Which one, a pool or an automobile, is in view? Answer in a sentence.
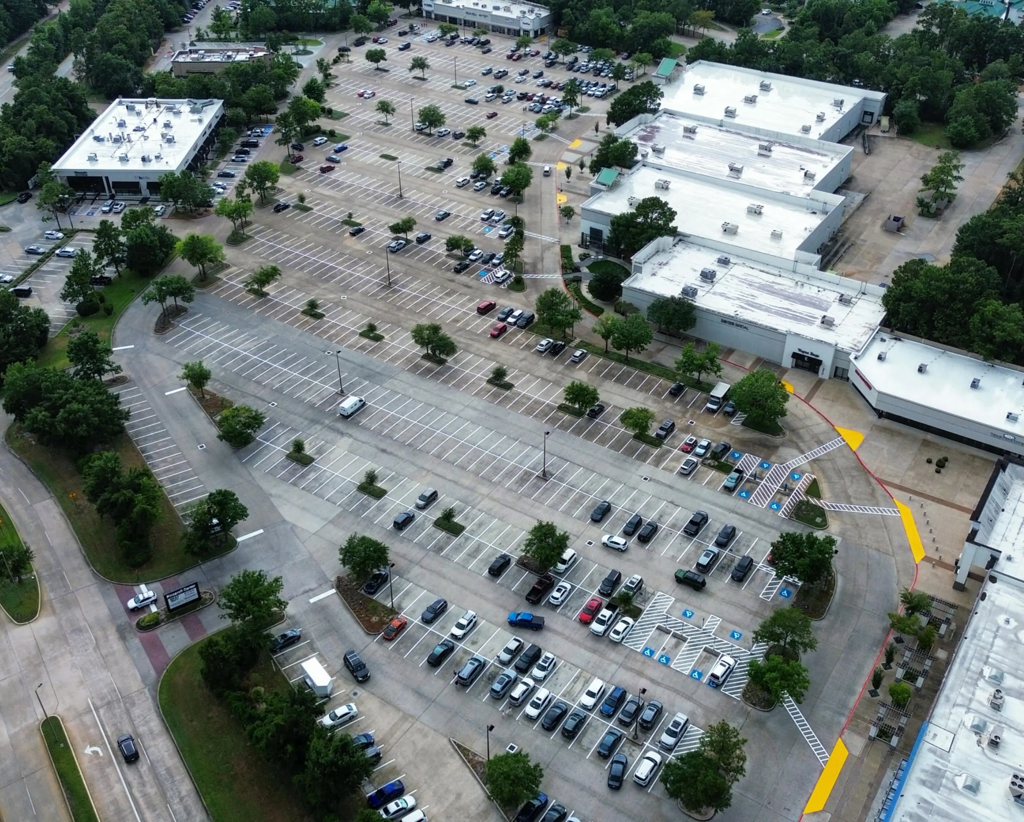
It is an automobile that can be seen here.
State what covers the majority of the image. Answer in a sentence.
The largest share of the image is taken up by paved ground.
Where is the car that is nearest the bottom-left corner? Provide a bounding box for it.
[117,732,141,766]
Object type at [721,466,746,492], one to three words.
truck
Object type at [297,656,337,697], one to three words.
trailer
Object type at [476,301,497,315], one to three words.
vehicle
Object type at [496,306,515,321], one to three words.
car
